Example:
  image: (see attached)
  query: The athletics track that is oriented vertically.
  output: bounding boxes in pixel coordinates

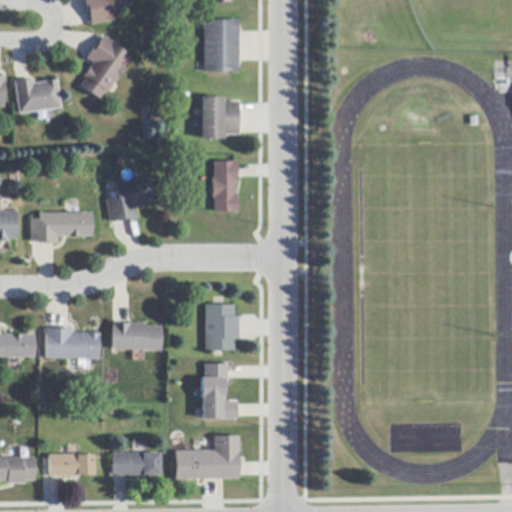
[334,58,512,484]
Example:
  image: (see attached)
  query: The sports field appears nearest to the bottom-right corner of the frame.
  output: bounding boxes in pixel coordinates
[352,76,496,464]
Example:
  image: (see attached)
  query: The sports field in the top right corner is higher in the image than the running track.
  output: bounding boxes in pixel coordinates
[412,0,512,50]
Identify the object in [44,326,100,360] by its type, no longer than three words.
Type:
house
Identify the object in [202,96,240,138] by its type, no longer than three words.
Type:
house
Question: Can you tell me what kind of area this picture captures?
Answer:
sports ground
